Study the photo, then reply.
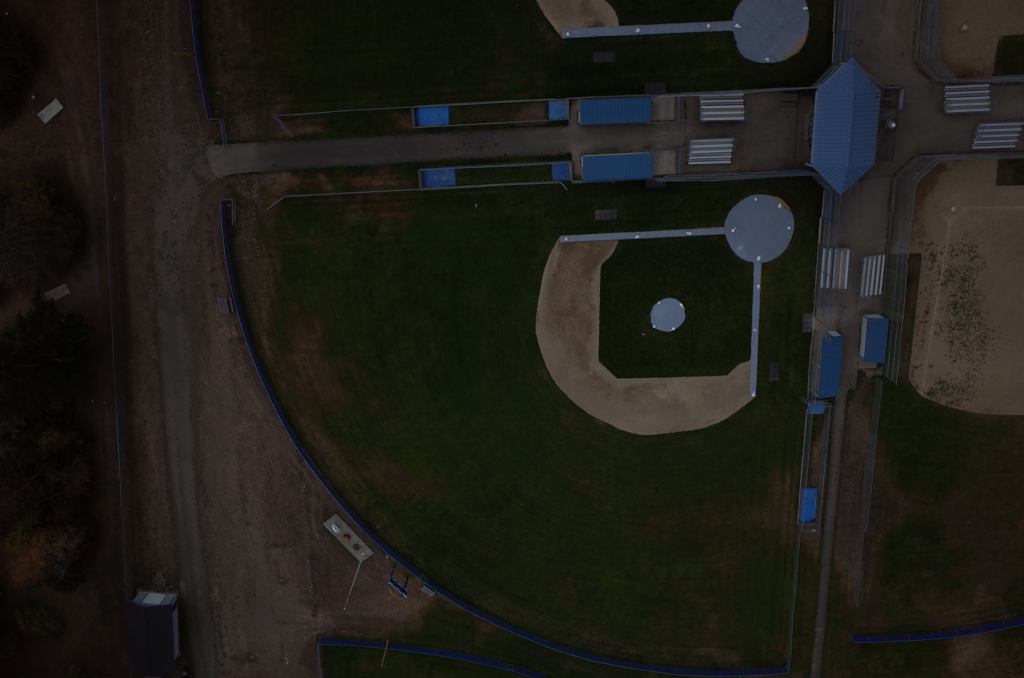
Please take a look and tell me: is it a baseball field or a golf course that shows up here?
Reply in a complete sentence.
Looking from above, you can make out a baseball field.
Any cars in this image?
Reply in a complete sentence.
No, there isn't any car down there.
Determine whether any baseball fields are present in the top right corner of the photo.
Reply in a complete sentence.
Yes, you'll find a baseball field in the top right corner of the photo.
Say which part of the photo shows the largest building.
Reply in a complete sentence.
The largest building appears toward the top right of the photo.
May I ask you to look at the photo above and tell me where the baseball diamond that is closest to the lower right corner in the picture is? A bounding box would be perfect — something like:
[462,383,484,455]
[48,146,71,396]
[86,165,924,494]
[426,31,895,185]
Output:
[850,151,1024,636]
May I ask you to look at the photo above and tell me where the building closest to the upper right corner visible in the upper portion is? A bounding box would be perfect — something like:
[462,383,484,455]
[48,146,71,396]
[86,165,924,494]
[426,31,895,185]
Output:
[807,56,882,196]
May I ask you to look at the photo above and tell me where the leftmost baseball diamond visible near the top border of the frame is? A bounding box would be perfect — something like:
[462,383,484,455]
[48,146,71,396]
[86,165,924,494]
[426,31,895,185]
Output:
[195,0,834,144]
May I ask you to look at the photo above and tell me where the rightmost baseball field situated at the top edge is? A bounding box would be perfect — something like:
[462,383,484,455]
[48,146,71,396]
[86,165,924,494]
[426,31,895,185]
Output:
[916,0,1024,81]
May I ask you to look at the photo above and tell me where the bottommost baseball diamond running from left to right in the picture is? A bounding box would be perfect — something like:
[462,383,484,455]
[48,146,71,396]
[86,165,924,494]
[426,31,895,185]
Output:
[319,641,530,678]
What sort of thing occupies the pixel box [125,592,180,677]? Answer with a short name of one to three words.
shed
